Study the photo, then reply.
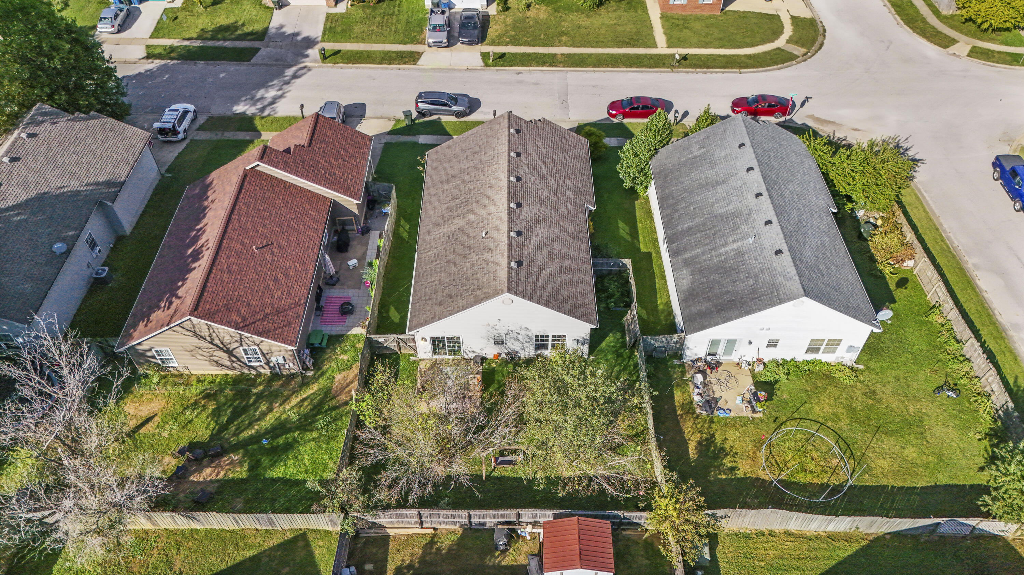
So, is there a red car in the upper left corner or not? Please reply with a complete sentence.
No, looking in the upper left corner, there is no red car.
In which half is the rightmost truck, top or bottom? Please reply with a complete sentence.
It is in the top half that the rightmost truck appears.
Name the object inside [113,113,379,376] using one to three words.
house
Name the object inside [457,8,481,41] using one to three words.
car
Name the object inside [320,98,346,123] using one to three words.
car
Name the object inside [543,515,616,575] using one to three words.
shed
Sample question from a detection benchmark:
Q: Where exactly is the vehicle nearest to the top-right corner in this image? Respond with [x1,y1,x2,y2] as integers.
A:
[992,157,1024,213]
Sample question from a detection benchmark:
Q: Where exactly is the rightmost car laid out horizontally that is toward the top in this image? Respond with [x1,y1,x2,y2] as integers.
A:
[730,92,794,119]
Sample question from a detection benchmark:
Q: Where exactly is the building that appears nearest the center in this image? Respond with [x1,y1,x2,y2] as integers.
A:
[405,112,601,359]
